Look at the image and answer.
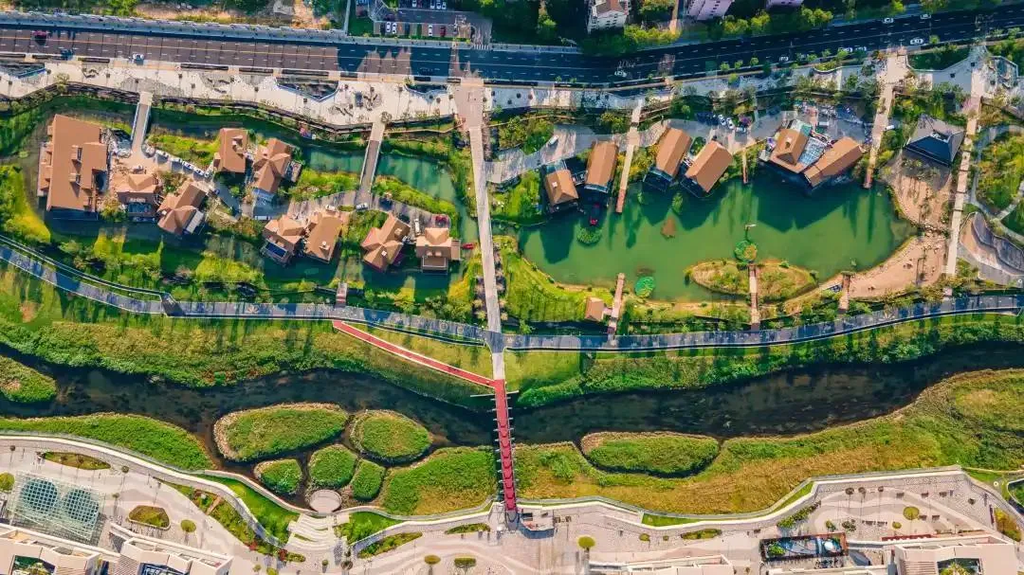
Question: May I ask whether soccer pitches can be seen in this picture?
No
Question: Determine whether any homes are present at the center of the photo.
Yes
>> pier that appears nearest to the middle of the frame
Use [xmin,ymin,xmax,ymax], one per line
[608,274,625,335]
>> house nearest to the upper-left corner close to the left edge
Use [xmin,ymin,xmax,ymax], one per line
[38,114,115,220]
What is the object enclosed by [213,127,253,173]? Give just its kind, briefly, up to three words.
house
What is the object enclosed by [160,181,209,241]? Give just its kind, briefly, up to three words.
house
